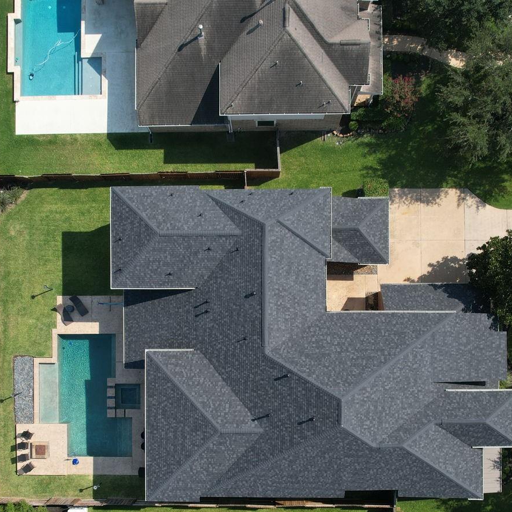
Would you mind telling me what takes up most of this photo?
buildings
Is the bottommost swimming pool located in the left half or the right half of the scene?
left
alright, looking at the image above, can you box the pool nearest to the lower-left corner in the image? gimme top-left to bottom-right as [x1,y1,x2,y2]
[39,334,140,457]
